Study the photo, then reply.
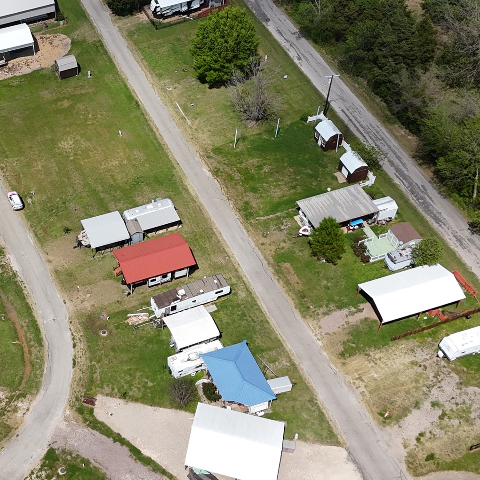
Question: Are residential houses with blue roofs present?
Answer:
Yes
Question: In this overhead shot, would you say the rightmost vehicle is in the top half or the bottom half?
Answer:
bottom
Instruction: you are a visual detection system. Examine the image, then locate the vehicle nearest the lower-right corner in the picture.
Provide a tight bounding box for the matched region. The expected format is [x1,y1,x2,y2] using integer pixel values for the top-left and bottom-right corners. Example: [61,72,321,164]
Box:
[431,326,480,363]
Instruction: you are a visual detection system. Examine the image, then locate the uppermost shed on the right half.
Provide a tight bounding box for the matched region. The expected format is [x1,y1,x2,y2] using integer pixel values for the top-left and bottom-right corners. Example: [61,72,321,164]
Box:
[313,119,344,150]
